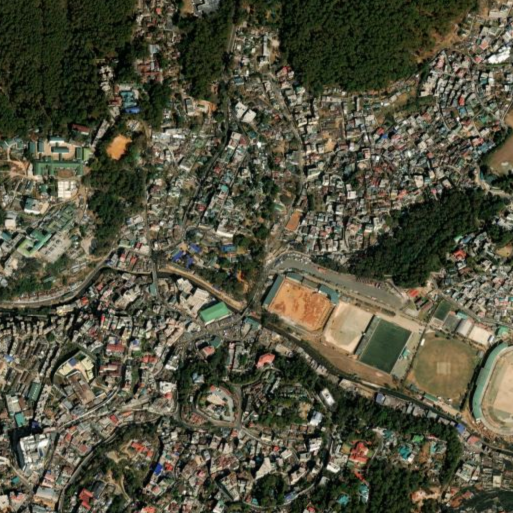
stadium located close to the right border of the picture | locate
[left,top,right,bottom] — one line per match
[458,324,513,438]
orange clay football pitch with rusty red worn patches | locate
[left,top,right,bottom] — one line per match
[268,278,333,330]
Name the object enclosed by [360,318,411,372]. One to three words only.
soccer field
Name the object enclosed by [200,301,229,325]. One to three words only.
building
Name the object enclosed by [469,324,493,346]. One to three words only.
building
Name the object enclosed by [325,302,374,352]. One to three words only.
sports field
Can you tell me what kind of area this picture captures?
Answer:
residential area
